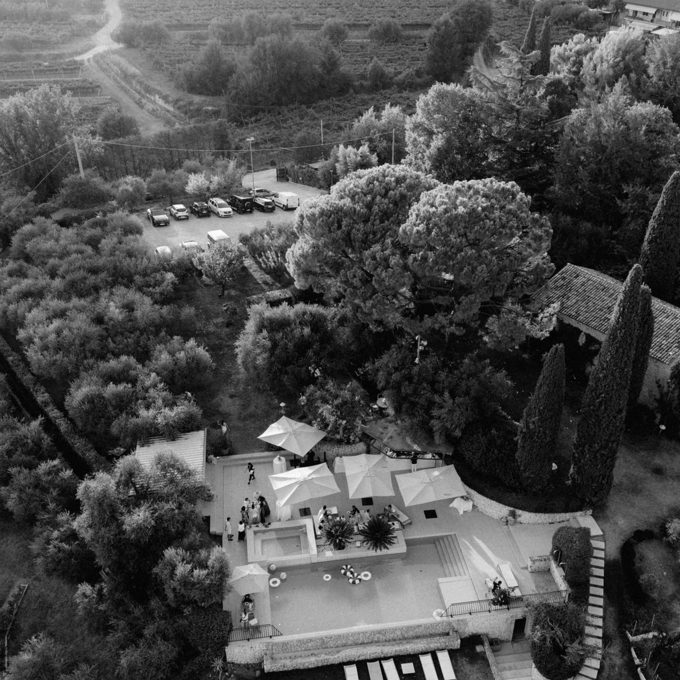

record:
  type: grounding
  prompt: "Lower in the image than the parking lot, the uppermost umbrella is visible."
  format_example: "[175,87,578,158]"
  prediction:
[256,415,330,468]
